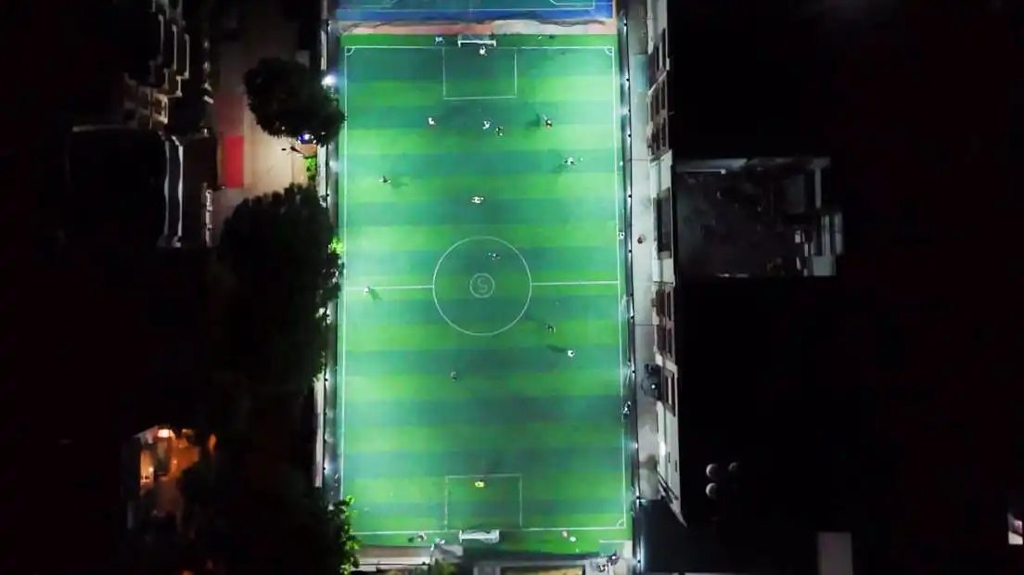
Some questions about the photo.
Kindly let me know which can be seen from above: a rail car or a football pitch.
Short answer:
football pitch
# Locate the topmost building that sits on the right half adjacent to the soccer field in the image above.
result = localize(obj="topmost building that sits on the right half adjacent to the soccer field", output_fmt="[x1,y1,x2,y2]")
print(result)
[646,0,1024,527]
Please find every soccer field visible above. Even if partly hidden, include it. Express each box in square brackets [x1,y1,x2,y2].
[338,34,631,549]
